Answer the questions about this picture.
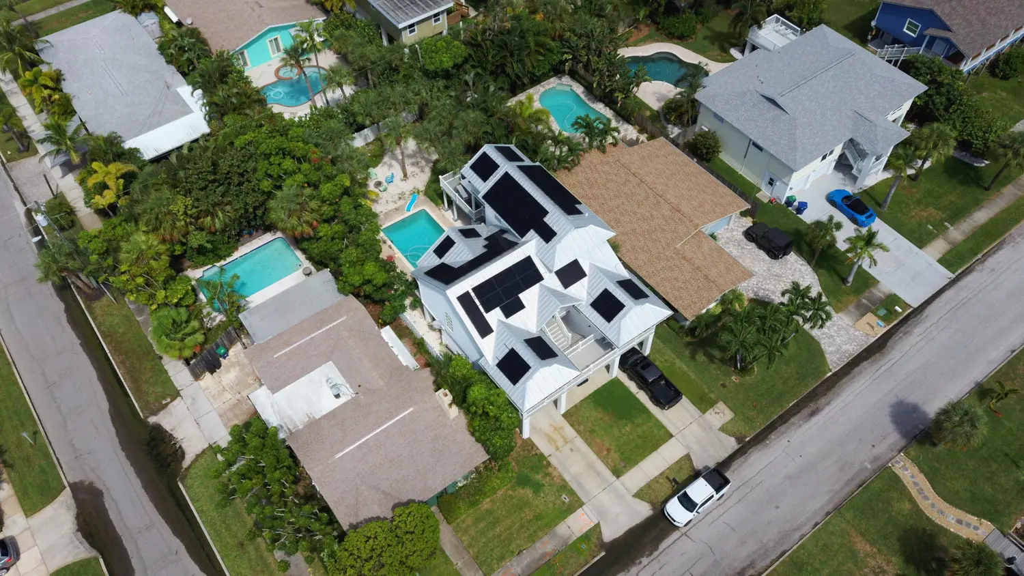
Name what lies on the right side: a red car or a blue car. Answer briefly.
blue car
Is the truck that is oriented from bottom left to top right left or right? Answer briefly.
right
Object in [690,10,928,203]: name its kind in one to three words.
house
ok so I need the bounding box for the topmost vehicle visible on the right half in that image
[828,192,877,228]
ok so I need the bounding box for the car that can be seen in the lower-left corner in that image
[0,537,20,572]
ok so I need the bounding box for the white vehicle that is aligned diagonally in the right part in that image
[665,462,733,527]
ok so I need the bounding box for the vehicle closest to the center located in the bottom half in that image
[619,349,683,412]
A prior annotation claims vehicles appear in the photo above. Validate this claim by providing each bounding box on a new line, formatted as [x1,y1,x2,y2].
[665,462,733,527]
[743,224,792,258]
[828,192,877,228]
[619,349,683,412]
[0,537,20,572]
